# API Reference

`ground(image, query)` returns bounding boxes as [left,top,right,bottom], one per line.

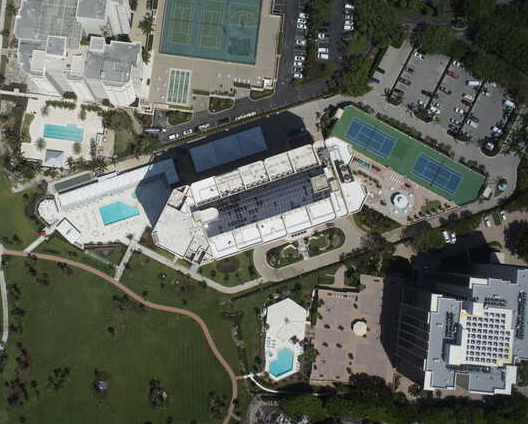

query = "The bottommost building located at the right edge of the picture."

[395,259,528,393]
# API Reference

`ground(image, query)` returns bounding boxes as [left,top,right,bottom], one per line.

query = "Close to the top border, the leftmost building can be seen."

[14,0,142,104]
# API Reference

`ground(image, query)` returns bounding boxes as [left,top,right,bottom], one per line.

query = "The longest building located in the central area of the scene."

[152,137,367,265]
